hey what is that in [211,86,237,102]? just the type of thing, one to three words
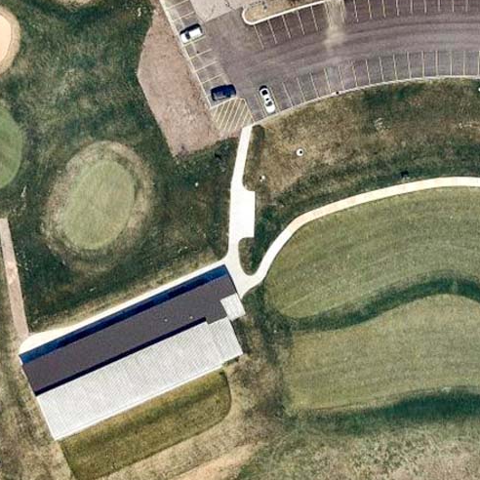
car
